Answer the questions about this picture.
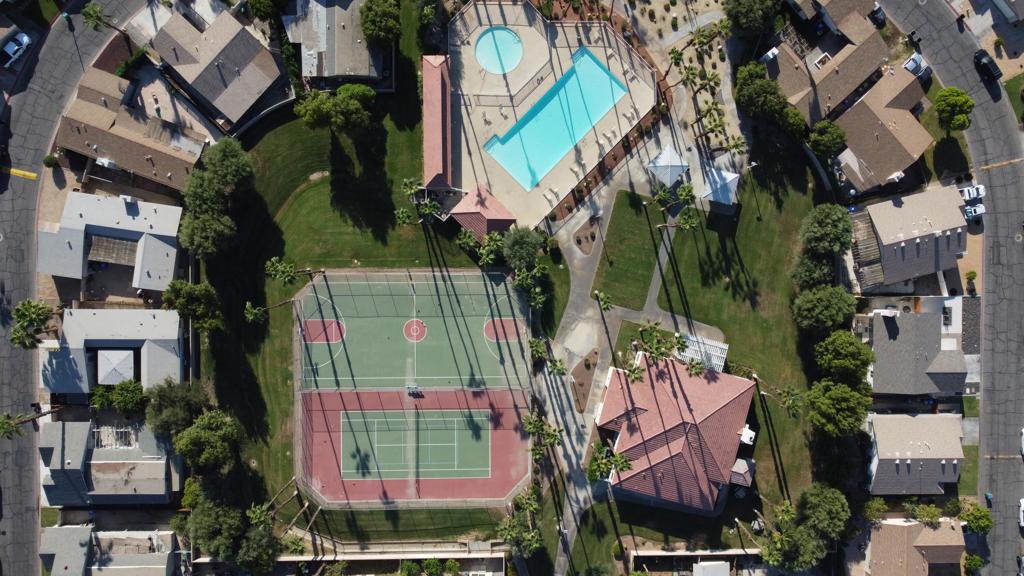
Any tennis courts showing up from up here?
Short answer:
Yes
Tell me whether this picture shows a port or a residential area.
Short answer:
residential area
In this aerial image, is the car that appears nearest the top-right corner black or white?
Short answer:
black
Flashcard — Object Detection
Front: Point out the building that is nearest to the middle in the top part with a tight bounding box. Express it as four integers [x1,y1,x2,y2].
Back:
[450,184,517,249]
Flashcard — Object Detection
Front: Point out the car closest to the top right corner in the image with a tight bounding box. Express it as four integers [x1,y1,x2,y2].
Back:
[974,49,1004,82]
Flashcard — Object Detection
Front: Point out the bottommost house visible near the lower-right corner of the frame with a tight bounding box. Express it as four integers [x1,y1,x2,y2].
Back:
[864,517,965,576]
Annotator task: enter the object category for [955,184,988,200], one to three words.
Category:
car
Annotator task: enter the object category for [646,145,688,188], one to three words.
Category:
gazebo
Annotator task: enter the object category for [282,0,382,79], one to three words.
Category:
house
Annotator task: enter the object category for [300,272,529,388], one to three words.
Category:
basketball court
